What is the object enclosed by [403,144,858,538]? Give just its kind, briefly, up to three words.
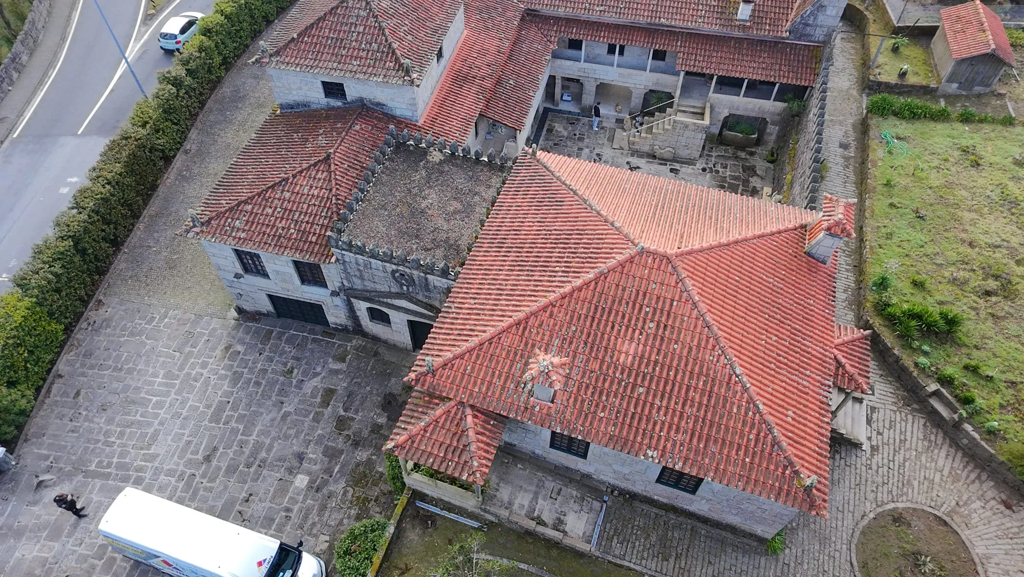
house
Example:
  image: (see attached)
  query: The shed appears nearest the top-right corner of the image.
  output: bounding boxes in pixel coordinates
[929,0,1023,103]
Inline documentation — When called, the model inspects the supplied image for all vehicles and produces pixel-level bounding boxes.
[156,12,210,51]
[101,492,332,577]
